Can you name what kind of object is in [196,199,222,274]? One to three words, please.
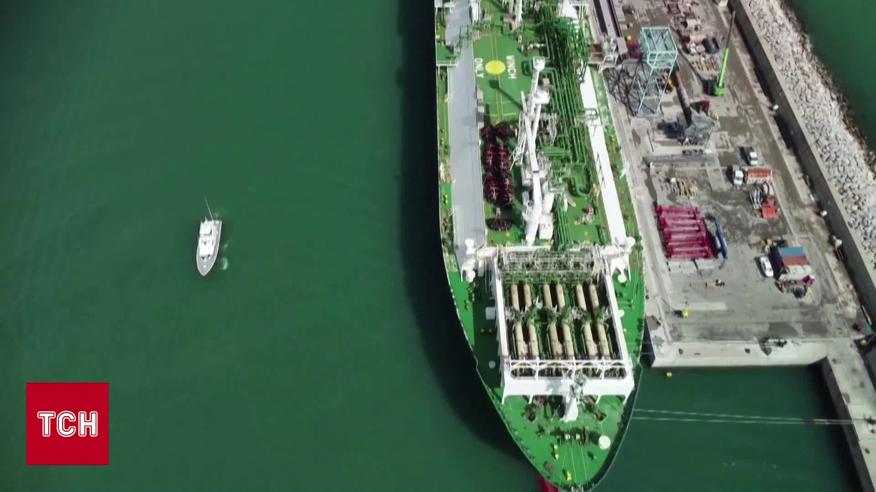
boat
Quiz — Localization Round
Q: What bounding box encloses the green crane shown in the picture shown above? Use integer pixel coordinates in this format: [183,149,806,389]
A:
[701,11,736,98]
